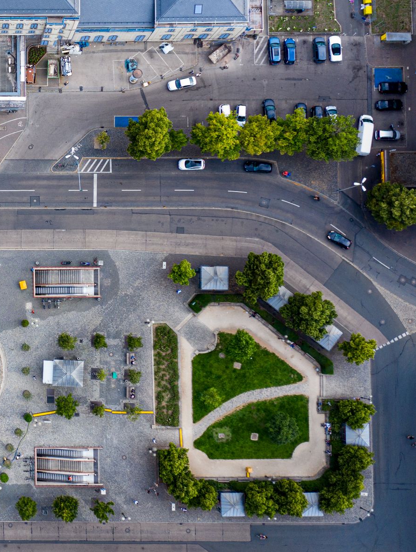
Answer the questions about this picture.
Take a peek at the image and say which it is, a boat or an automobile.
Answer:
automobile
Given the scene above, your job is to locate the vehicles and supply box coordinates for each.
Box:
[356,115,376,157]
[294,103,308,120]
[263,99,277,124]
[235,105,247,126]
[311,105,323,126]
[325,105,339,125]
[326,230,353,251]
[219,104,230,118]
[379,81,408,95]
[167,76,197,91]
[179,158,206,171]
[268,34,283,63]
[283,34,298,64]
[375,124,401,142]
[328,34,342,62]
[375,98,403,111]
[244,160,272,173]
[312,35,327,63]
